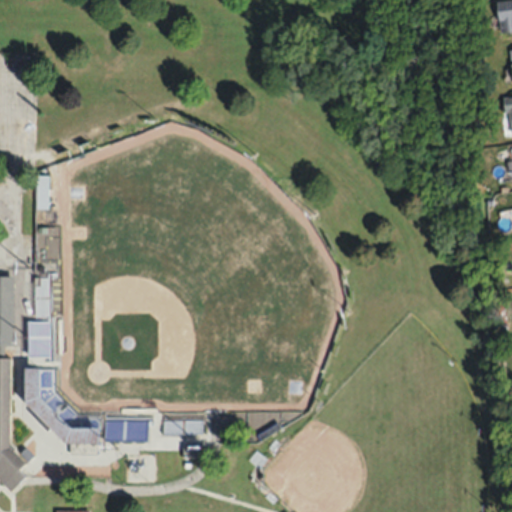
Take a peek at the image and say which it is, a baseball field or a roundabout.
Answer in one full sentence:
There is a baseball field in the scene.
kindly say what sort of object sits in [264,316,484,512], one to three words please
baseball field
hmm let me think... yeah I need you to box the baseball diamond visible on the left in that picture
[52,122,346,412]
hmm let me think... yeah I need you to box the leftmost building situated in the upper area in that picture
[37,176,52,211]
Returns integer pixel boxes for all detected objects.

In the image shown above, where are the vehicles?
[26,300,33,314]
[26,124,34,132]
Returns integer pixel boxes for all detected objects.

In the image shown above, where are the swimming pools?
[498,218,512,232]
[493,166,506,179]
